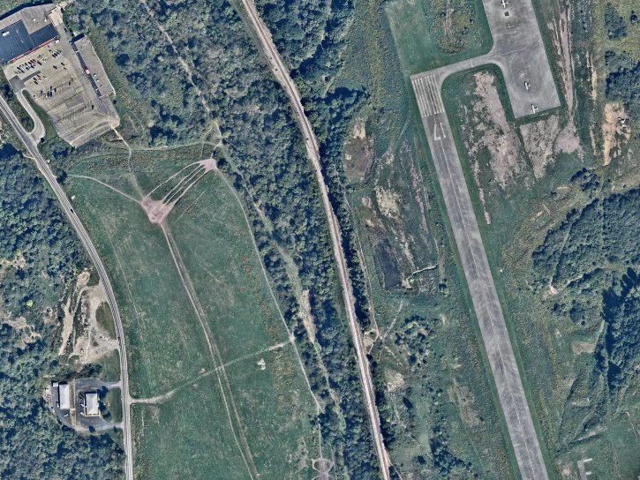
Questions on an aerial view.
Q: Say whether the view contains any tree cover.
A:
Yes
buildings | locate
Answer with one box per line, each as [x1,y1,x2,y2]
[58,384,70,409]
[85,393,98,415]
[71,34,114,97]
[0,3,58,64]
